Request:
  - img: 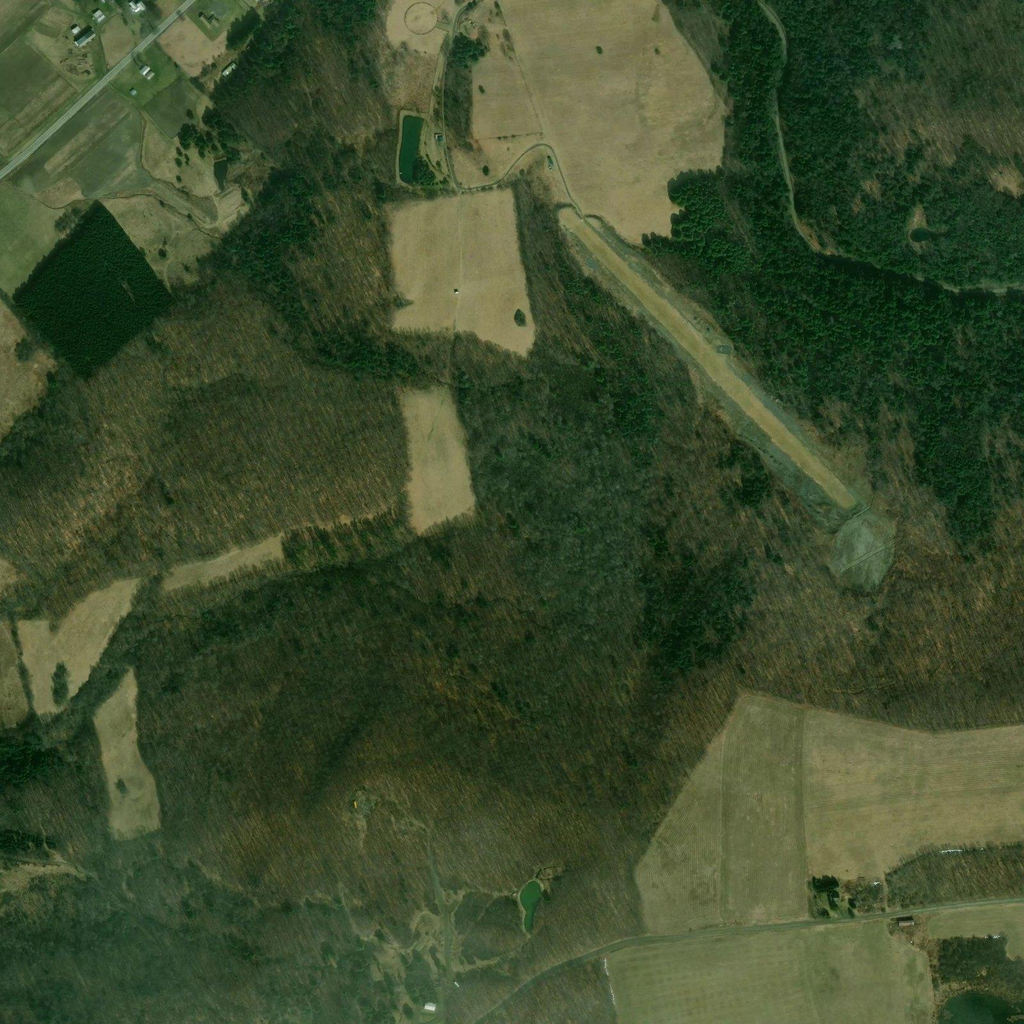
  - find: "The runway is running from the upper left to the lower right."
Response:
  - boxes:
[559,207,854,508]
